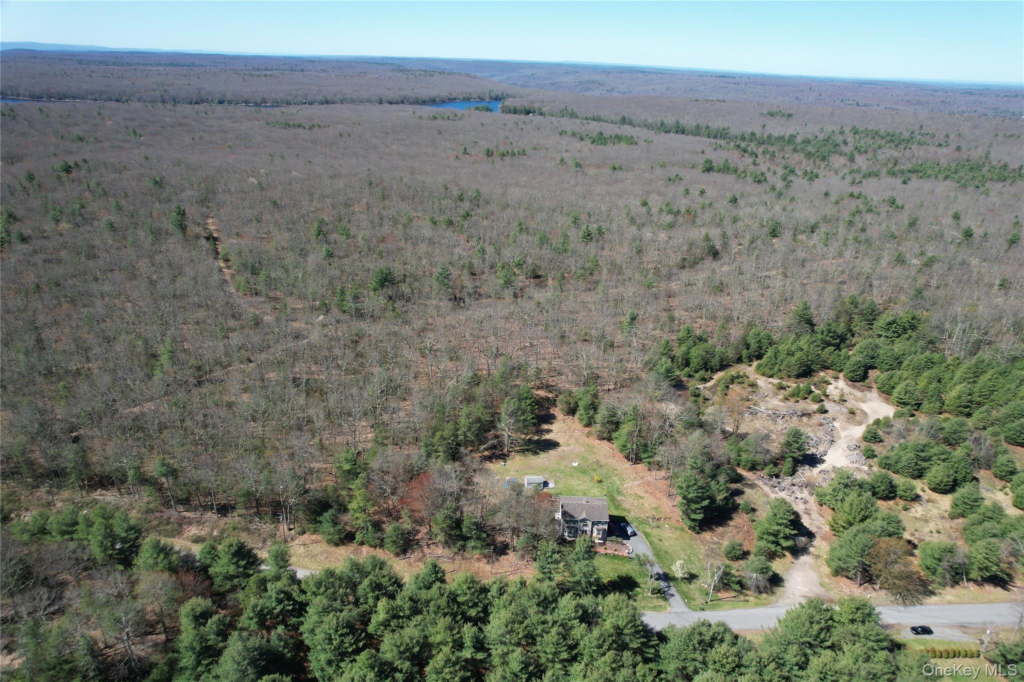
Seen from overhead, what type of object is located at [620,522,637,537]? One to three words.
car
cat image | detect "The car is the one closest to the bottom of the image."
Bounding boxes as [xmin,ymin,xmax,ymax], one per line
[908,625,935,638]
